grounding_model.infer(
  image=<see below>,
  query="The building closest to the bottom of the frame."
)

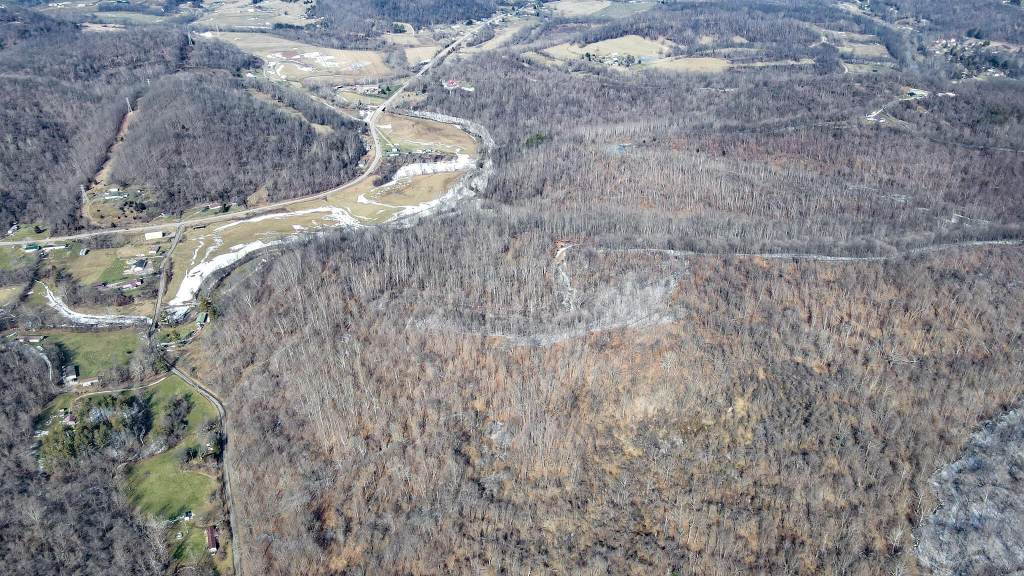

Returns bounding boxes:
[203,527,220,556]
